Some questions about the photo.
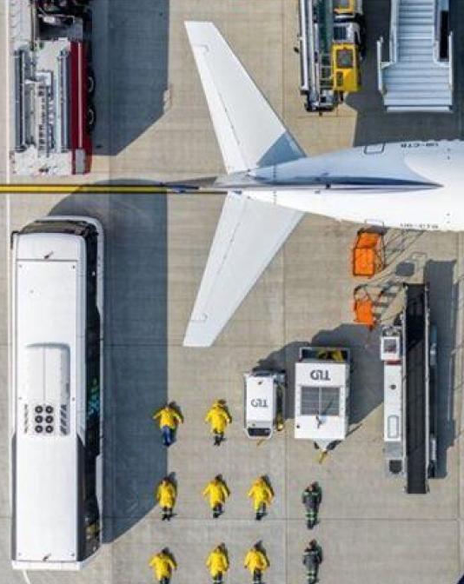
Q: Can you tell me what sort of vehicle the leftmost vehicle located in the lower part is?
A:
bus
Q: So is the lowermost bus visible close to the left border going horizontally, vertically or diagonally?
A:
vertically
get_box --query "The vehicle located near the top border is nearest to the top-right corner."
[294,0,369,119]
